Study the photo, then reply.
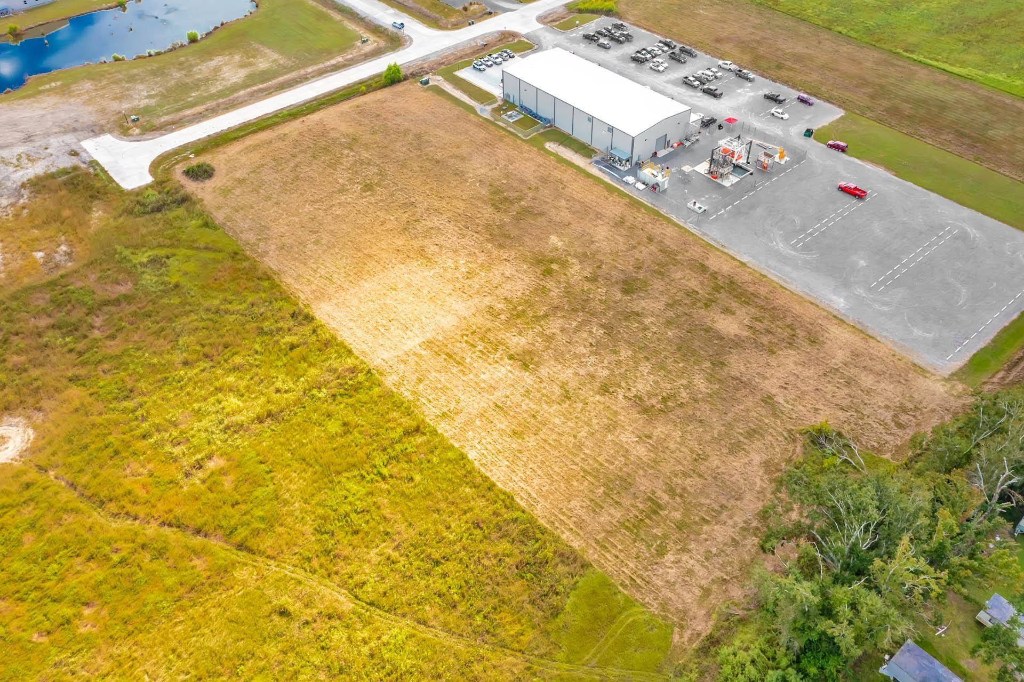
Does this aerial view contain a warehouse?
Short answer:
Yes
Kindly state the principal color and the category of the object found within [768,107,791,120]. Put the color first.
white vehicle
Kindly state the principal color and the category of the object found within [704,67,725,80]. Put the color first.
white vehicle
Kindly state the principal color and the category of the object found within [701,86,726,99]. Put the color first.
gray vehicle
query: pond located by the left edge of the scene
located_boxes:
[0,0,258,95]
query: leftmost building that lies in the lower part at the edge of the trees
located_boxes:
[886,640,964,682]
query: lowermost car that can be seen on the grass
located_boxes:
[826,140,849,153]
